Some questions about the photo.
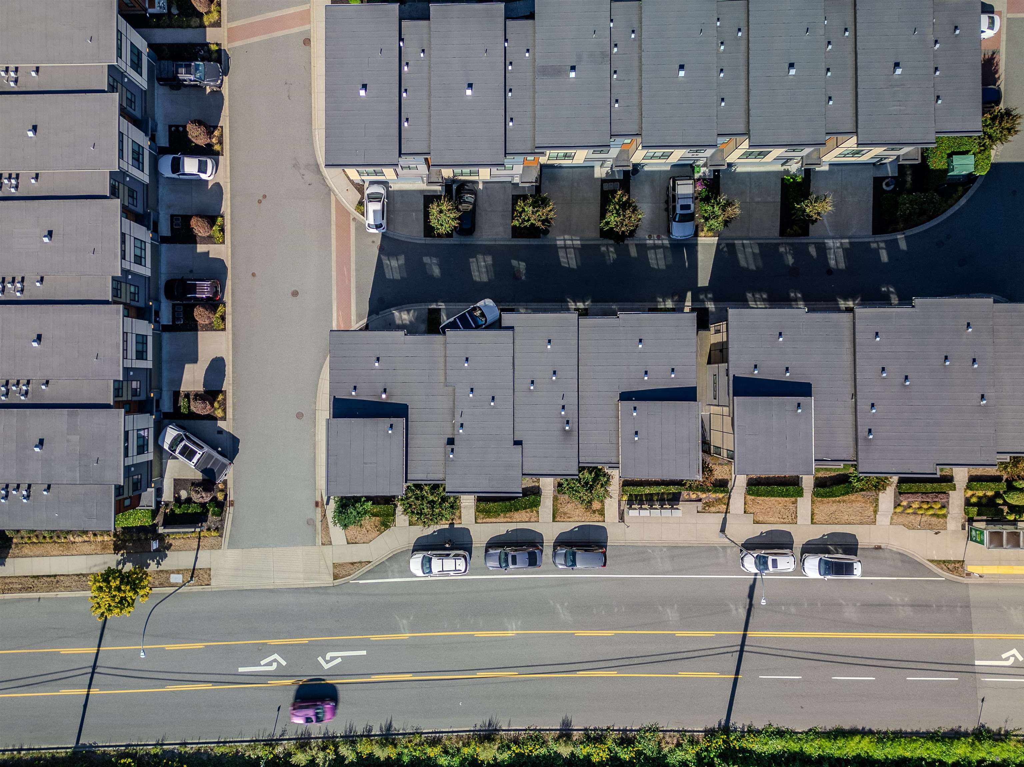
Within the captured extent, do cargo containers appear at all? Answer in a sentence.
No, I find no cargo container anywhere in the image.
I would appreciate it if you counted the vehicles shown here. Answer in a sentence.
The number of vehicles here is 16.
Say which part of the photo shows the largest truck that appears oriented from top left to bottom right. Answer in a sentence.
You can find the largest truck that appears oriented from top left to bottom right in the left area of the picture.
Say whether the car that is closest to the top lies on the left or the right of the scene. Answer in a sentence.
The car that is closest to the top is on the right side of the image.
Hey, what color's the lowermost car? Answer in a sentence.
In this view, the lowermost car is purple.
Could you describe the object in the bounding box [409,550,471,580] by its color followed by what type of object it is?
white car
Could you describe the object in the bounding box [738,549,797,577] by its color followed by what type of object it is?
white car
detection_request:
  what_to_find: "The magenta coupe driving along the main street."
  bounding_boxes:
[287,698,337,727]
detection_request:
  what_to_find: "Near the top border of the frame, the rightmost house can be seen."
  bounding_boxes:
[824,0,983,170]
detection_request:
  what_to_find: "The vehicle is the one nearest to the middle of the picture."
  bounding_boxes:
[440,298,500,334]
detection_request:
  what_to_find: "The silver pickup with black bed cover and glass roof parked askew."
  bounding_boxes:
[162,426,235,481]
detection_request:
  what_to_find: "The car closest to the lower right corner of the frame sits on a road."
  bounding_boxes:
[800,552,863,582]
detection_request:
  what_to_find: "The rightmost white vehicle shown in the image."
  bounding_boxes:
[982,11,1007,41]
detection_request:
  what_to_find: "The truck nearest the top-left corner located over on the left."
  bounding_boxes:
[159,58,226,89]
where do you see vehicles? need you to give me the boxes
[800,552,863,582]
[162,426,235,481]
[552,545,608,573]
[165,275,225,304]
[158,152,218,180]
[159,58,226,89]
[409,550,471,580]
[667,175,699,240]
[982,11,1007,41]
[738,549,797,577]
[287,698,337,727]
[453,182,480,237]
[484,547,543,575]
[983,81,1009,111]
[440,298,500,334]
[362,182,389,235]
